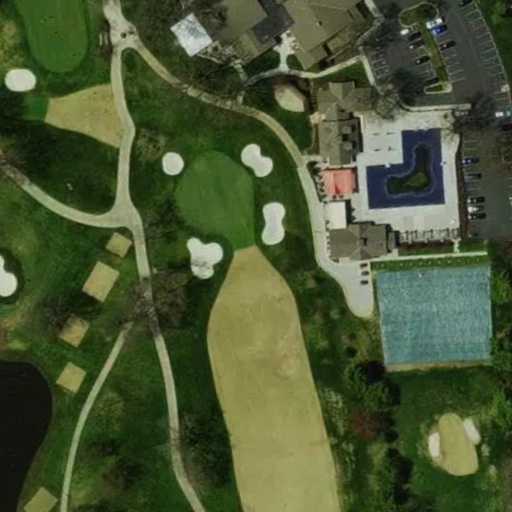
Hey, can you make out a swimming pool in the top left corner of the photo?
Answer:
No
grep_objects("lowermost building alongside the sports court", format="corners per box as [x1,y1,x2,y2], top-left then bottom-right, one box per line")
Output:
[330,223,395,259]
